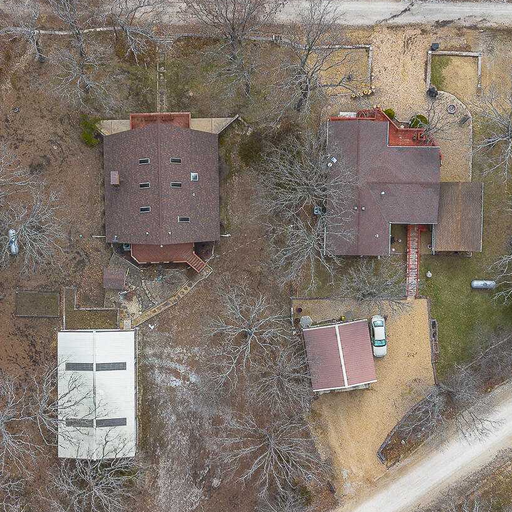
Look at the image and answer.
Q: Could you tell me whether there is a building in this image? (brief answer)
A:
Yes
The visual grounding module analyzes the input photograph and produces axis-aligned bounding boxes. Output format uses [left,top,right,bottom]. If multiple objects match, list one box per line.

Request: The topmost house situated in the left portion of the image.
[90,123,230,245]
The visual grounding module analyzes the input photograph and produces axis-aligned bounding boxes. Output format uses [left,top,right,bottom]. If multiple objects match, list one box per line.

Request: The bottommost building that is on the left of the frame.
[58,331,136,460]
